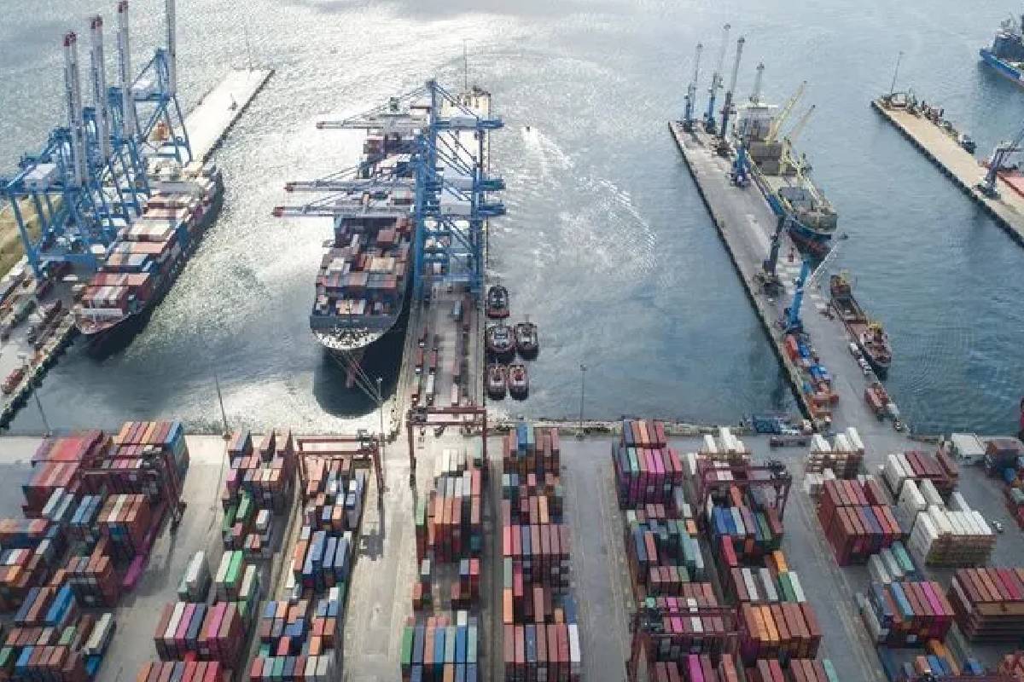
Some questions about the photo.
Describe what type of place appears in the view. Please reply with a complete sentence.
The picture captures a port.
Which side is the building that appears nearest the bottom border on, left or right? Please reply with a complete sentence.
It is on the right.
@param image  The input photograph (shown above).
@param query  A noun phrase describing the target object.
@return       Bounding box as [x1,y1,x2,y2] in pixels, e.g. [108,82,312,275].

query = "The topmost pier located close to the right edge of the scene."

[870,95,1024,261]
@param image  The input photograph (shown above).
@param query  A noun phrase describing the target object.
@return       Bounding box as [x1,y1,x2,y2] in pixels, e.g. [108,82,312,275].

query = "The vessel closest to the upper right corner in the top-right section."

[979,35,1024,94]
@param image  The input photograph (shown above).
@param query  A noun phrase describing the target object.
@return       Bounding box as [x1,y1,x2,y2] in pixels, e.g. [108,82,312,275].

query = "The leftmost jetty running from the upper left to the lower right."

[669,123,907,430]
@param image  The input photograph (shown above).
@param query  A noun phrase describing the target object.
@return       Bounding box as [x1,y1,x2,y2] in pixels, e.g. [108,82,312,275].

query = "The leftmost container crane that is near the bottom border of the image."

[631,617,753,682]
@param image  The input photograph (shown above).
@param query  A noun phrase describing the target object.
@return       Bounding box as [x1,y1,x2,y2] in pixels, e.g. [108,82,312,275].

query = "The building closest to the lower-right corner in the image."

[947,437,996,474]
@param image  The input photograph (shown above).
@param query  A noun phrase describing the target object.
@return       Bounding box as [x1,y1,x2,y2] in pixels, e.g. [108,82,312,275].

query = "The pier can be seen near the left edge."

[0,69,274,434]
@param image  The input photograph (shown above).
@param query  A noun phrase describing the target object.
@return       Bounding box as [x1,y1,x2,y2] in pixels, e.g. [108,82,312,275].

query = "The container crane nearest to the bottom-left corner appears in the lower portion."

[64,454,185,536]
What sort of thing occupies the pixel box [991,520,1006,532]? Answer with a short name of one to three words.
vehicle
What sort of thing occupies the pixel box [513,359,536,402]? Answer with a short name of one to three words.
boat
